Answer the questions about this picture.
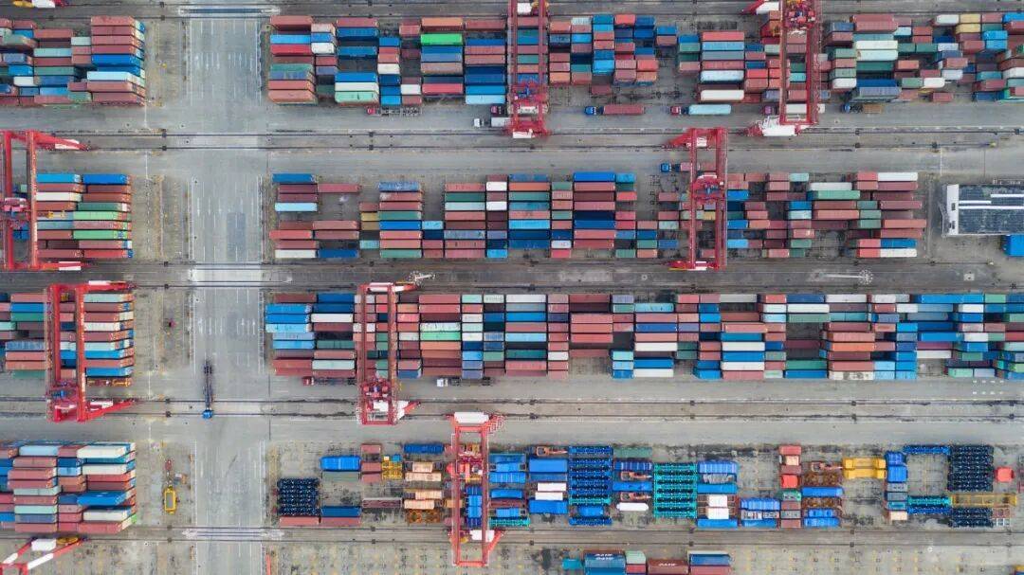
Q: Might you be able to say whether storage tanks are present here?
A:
No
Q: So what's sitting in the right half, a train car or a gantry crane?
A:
gantry crane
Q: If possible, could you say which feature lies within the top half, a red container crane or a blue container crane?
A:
red container crane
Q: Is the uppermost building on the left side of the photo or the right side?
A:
right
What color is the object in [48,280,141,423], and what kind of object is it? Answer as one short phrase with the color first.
red container crane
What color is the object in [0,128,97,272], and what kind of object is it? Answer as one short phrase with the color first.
red container crane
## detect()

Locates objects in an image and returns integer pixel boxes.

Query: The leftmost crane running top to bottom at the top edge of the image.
[494,0,560,139]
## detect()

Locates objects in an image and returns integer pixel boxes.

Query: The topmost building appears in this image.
[932,184,1024,236]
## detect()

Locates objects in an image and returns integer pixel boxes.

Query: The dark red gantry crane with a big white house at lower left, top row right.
[740,0,818,139]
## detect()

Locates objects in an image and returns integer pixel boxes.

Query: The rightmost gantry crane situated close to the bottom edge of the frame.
[442,413,508,569]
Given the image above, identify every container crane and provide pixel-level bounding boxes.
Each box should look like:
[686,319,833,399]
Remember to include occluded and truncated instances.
[0,128,97,272]
[494,0,560,139]
[656,128,726,272]
[356,280,422,424]
[48,280,141,423]
[442,413,508,569]
[740,0,818,139]
[0,537,91,575]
